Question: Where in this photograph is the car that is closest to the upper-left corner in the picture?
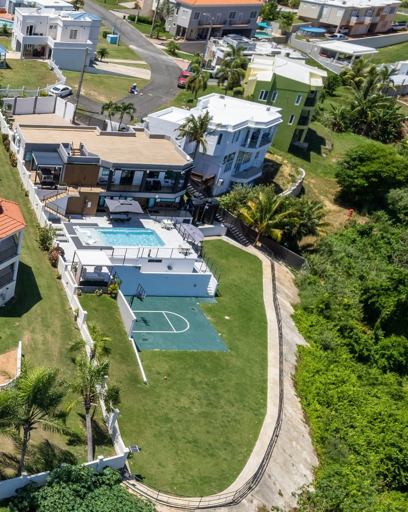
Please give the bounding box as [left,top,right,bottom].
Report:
[44,81,76,94]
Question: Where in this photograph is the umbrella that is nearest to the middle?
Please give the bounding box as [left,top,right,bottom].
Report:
[175,226,207,245]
